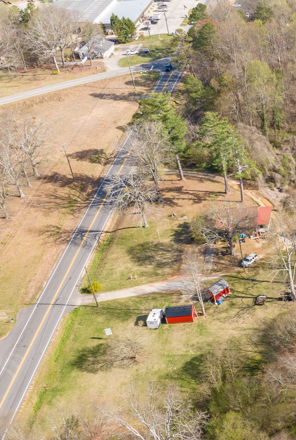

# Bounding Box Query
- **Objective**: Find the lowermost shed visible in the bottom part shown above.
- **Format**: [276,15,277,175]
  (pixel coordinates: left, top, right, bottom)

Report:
[165,303,204,323]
